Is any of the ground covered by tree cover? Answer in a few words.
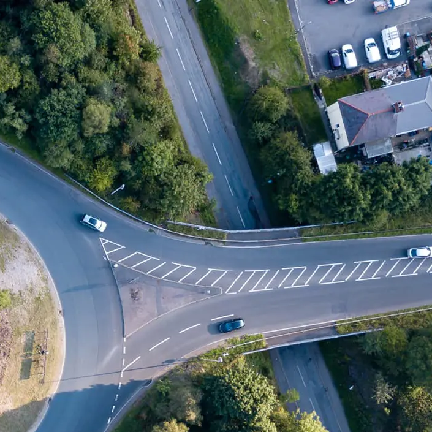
Yes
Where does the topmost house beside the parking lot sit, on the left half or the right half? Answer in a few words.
right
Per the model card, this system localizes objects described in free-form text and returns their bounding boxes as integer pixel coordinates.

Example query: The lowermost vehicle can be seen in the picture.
[217,318,244,333]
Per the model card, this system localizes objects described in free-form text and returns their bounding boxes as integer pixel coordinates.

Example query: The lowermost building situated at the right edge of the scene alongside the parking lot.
[326,76,432,149]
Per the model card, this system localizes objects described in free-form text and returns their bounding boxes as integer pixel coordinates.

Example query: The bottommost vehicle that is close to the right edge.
[405,244,432,258]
